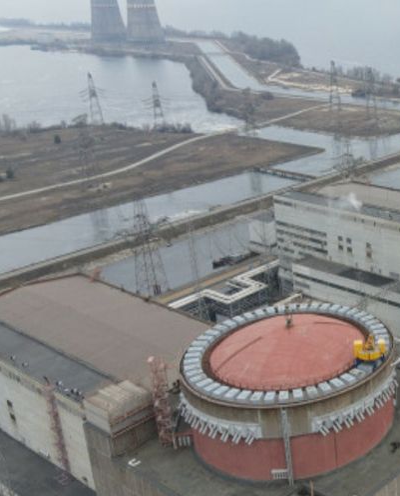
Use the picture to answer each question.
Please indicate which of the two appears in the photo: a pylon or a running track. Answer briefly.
pylon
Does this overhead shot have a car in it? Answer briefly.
No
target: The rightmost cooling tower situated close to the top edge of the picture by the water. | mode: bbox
[123,0,168,42]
